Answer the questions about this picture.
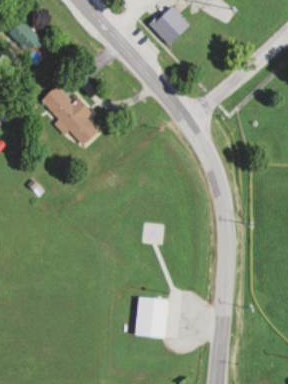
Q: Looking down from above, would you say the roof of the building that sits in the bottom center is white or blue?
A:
white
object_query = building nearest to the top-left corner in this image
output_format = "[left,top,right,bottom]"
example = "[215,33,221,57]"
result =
[10,22,40,51]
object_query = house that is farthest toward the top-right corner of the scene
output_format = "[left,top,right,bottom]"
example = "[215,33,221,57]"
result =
[152,8,190,45]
